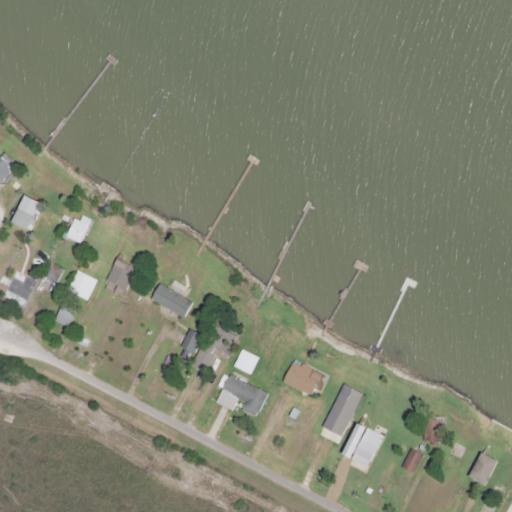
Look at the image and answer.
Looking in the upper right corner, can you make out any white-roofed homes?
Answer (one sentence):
No, no white-roofed home appears in the upper right corner.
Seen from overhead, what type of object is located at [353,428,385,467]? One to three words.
building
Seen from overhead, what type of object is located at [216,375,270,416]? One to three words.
house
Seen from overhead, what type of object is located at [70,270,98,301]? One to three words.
building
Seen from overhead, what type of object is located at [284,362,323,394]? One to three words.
house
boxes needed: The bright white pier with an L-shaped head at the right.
[370,278,418,360]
